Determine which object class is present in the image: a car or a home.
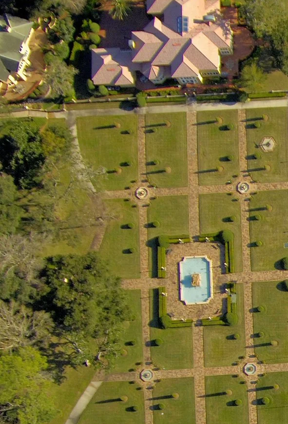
home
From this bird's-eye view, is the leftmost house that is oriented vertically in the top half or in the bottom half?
top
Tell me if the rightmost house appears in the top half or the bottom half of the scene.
top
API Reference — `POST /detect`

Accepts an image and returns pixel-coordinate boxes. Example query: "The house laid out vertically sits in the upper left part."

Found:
[0,13,40,101]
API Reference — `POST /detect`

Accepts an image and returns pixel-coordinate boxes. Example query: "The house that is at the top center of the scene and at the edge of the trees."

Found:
[92,0,236,87]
